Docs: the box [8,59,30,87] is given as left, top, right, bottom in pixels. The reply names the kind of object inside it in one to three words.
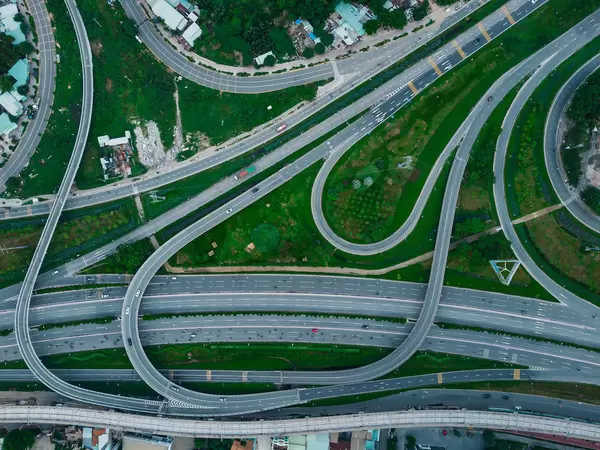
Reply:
house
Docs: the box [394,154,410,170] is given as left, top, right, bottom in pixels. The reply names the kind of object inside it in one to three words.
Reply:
pylon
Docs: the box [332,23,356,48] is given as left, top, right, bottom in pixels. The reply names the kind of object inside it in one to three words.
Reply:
house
